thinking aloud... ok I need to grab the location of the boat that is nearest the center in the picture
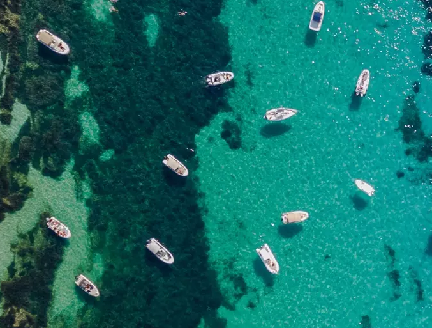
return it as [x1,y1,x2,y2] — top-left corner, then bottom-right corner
[162,157,188,177]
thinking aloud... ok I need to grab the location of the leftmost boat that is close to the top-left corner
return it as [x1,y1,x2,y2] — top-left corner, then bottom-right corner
[35,31,69,54]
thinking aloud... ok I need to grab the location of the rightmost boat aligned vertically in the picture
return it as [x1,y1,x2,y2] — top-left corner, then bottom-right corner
[354,71,369,98]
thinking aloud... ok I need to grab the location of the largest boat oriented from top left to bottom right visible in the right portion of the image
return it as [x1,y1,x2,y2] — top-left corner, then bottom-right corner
[255,242,279,273]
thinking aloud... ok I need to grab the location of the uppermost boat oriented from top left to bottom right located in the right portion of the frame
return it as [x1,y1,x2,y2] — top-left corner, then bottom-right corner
[352,177,375,196]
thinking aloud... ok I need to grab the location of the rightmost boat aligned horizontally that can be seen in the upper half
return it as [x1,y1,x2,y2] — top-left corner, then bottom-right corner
[263,108,298,122]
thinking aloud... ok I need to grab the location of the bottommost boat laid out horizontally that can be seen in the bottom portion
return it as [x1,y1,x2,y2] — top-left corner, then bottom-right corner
[280,211,309,224]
